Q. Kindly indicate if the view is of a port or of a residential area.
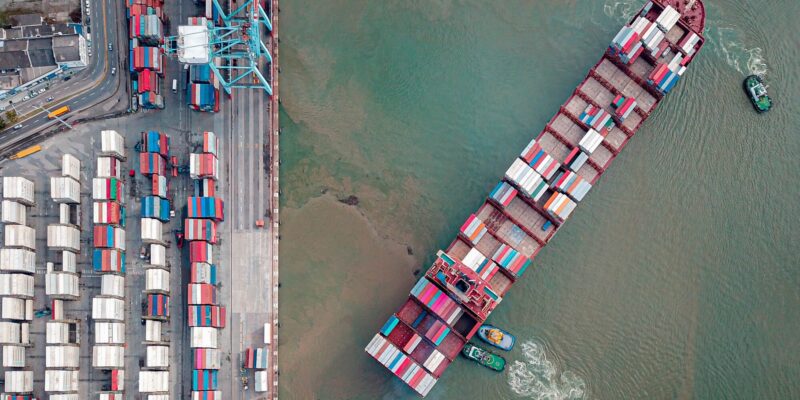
port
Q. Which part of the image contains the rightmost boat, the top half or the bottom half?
top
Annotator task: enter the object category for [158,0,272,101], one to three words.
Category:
container crane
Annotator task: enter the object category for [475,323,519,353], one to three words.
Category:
boat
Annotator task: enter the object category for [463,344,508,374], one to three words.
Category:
boat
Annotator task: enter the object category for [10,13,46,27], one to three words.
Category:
building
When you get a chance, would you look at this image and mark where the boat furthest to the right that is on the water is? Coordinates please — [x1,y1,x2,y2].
[743,70,777,114]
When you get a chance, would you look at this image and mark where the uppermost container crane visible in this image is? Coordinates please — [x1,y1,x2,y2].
[212,0,272,37]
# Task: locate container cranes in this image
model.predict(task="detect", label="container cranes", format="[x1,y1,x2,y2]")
[212,0,272,37]
[158,0,272,101]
